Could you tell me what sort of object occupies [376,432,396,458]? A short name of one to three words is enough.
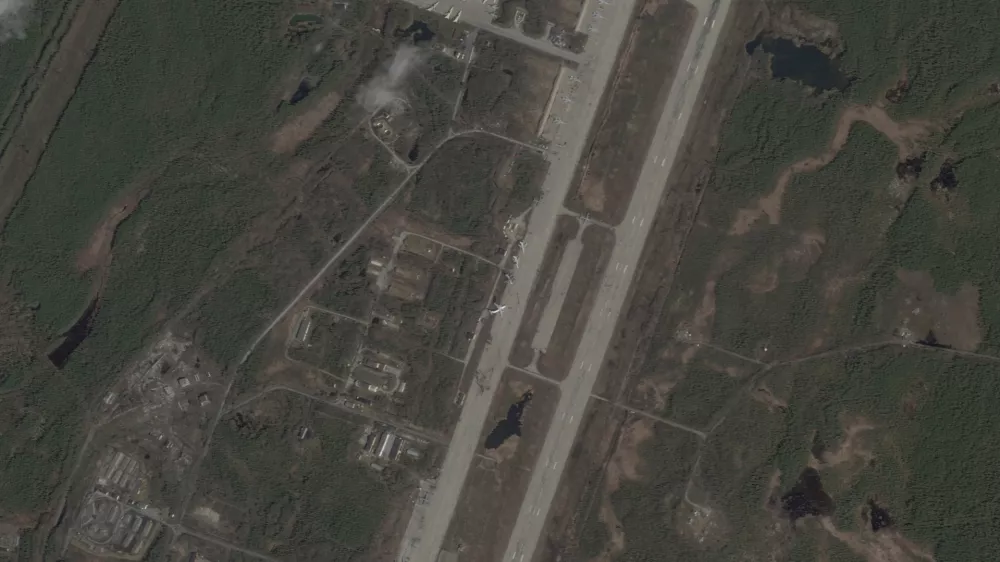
hangar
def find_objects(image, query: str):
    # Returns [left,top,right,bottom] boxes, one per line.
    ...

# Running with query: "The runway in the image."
[503,0,730,562]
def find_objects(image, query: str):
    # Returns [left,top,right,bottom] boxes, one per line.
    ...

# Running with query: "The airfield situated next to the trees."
[394,0,730,562]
